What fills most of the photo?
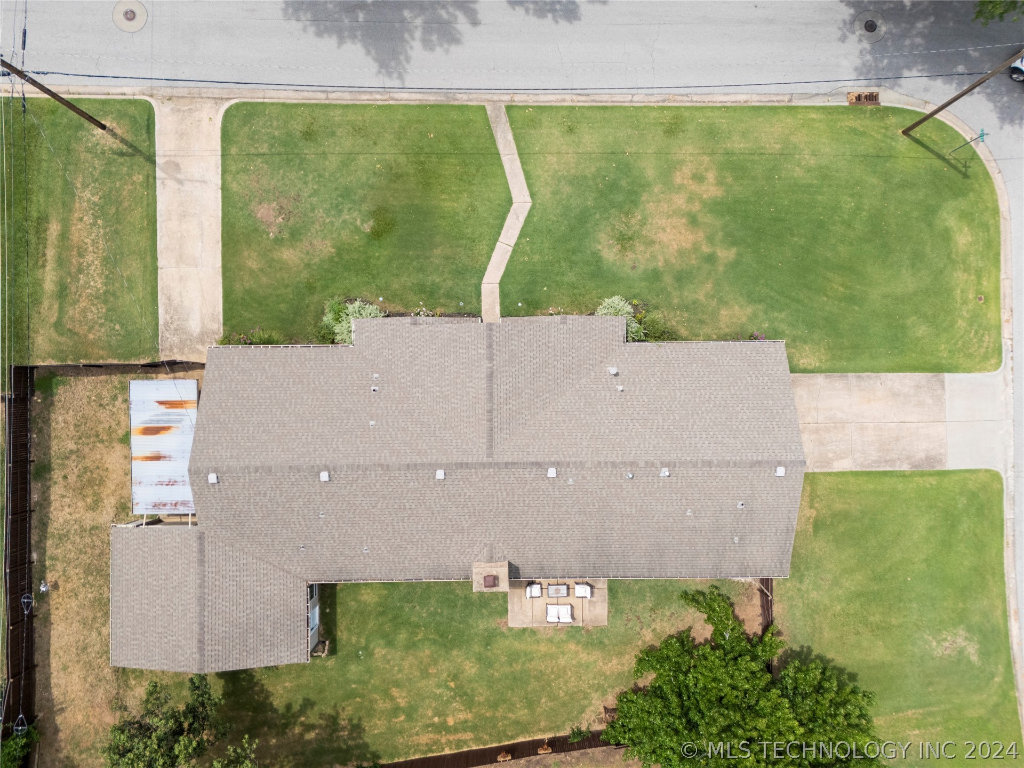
grass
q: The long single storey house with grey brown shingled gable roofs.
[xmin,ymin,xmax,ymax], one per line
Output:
[111,315,805,673]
